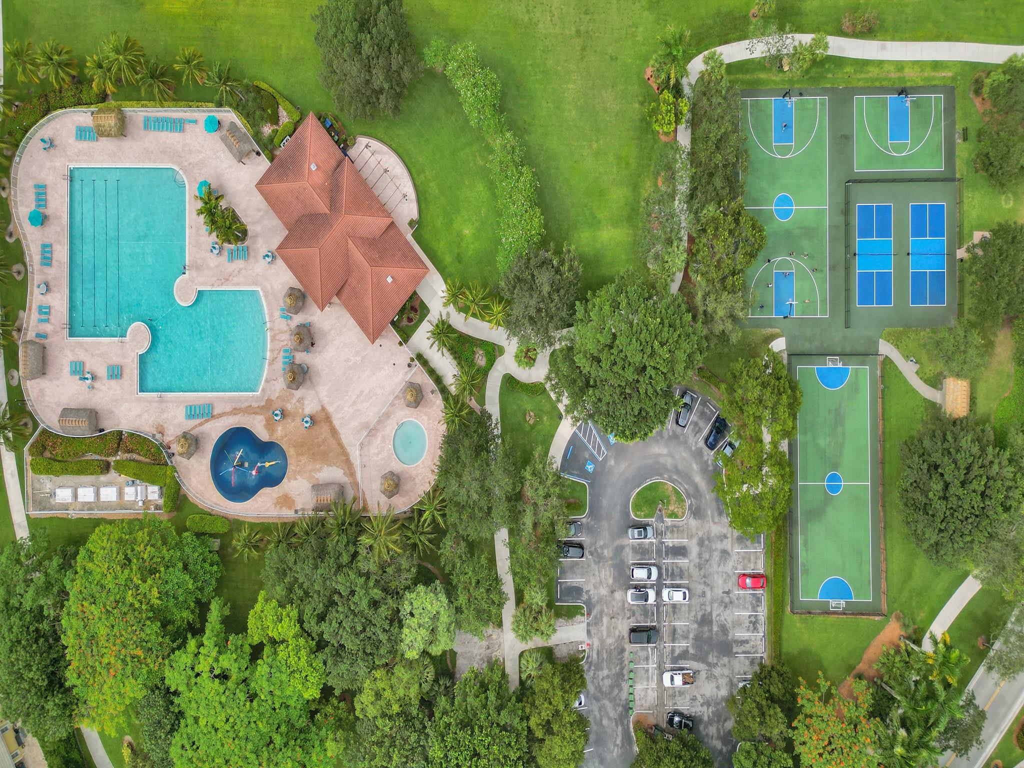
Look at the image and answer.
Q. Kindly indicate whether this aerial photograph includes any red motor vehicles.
Yes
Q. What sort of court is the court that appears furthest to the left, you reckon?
basketball court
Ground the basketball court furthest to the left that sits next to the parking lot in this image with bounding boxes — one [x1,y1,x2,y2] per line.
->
[740,97,829,317]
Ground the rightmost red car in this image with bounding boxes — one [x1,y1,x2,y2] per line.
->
[737,573,766,590]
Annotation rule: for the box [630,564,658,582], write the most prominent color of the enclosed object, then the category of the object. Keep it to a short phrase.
white car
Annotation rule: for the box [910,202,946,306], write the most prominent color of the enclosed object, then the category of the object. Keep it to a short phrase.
blue sports court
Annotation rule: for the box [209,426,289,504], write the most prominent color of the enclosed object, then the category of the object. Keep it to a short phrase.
blue swimming pool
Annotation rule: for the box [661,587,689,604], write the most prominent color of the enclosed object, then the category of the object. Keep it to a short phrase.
white car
